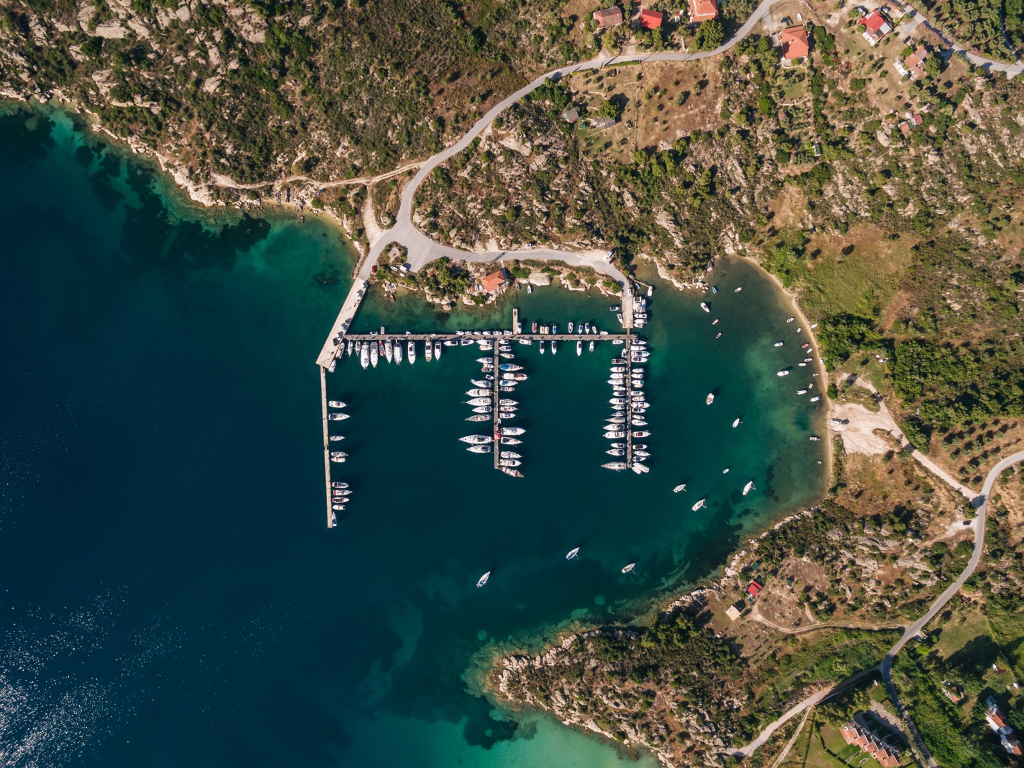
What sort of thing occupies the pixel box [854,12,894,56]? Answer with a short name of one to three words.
house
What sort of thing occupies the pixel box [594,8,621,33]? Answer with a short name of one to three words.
house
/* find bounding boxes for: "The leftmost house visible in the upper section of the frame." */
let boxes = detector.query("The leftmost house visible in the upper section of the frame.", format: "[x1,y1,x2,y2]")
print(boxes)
[480,271,504,292]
